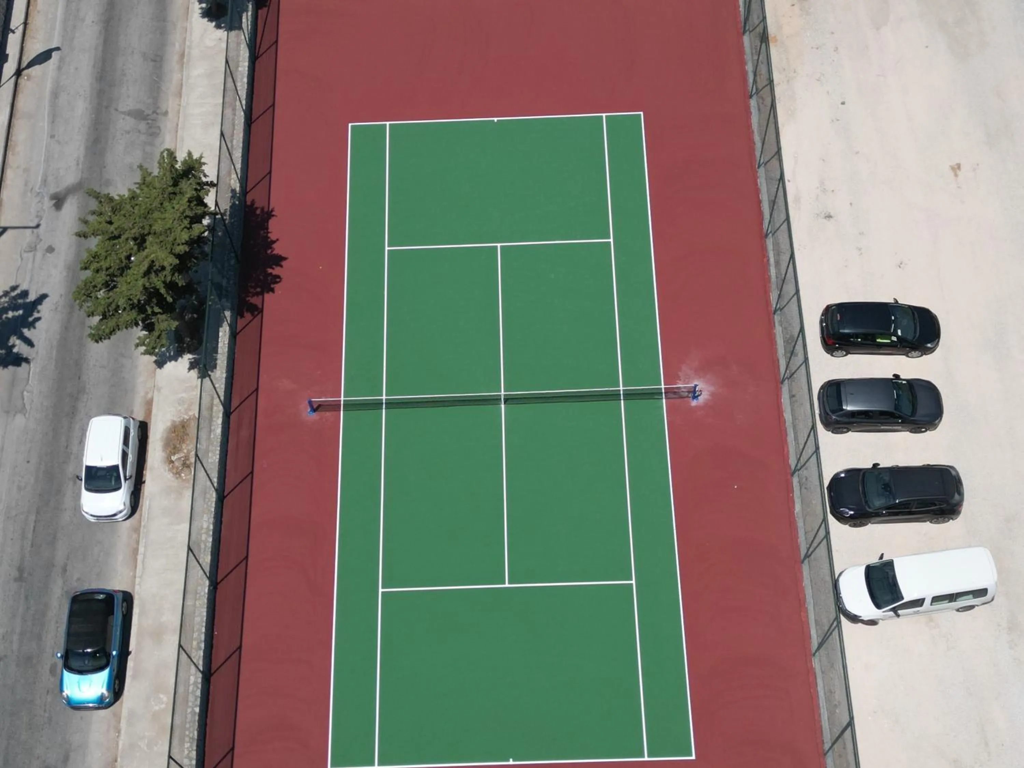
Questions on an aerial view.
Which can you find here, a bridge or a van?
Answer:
van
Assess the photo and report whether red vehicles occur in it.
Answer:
No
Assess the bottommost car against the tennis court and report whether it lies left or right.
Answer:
left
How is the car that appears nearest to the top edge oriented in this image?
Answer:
from left to right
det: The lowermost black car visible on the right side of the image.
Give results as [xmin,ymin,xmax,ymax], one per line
[826,460,964,527]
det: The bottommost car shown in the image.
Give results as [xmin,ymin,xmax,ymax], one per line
[52,588,125,710]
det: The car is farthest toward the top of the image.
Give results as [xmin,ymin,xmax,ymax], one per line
[819,297,940,358]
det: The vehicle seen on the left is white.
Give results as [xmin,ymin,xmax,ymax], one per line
[73,413,141,522]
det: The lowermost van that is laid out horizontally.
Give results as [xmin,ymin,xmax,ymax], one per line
[836,547,997,625]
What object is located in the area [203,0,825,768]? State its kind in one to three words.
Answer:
tennis court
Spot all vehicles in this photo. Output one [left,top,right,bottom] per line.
[819,297,940,358]
[73,413,141,522]
[818,371,943,433]
[52,588,125,710]
[836,547,997,625]
[826,460,964,527]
